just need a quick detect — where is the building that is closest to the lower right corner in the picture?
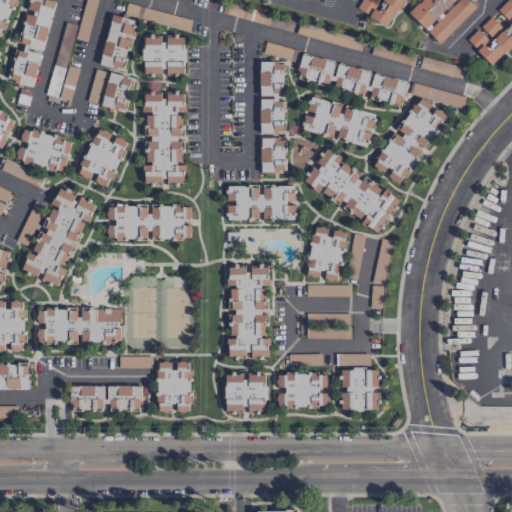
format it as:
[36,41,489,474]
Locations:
[340,368,382,412]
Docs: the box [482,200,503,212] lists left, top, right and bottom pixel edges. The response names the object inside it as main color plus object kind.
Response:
white vehicle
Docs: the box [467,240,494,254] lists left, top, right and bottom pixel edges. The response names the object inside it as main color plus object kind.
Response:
white vehicle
